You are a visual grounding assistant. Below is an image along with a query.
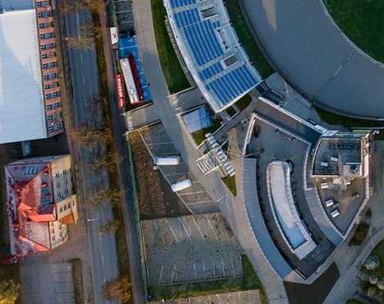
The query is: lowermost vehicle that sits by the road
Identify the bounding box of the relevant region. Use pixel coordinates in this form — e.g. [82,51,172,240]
[170,179,194,193]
